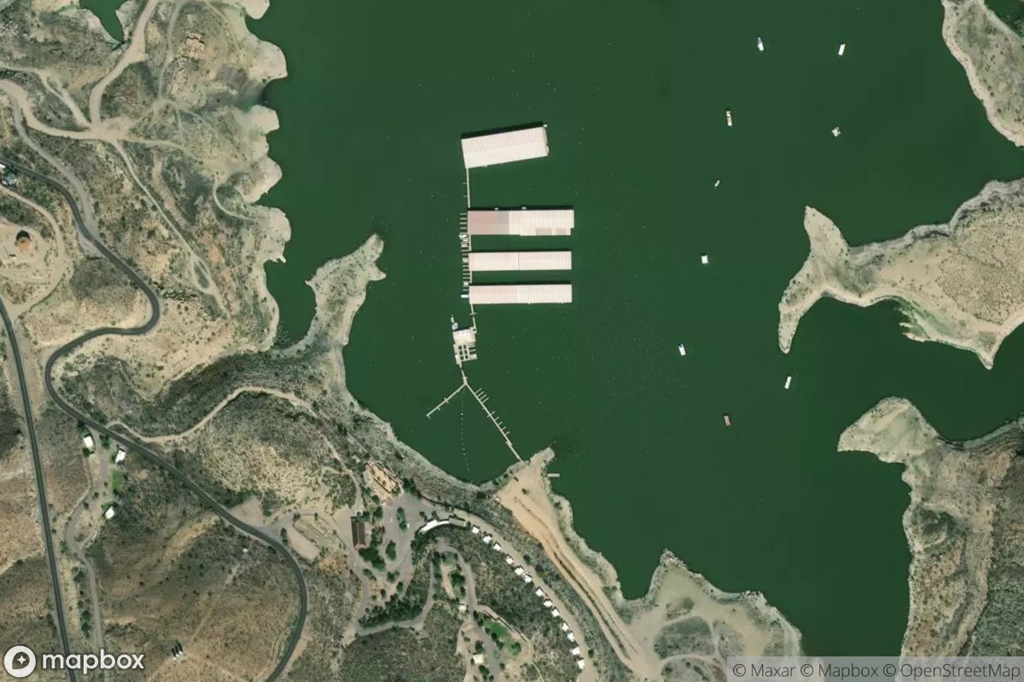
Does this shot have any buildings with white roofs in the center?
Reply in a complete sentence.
Yes, a building with a white roof can be seen in the center.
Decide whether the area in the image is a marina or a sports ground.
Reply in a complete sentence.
What you see here is a marina.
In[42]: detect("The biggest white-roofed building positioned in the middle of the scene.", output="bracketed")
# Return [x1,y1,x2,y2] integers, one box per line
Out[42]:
[453,329,478,363]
